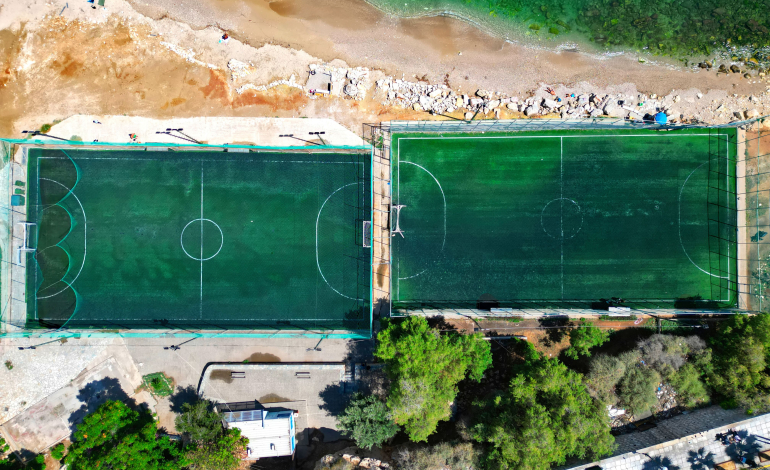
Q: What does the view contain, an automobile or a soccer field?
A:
soccer field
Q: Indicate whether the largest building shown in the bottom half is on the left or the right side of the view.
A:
left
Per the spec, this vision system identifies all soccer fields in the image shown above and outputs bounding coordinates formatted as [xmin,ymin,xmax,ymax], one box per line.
[393,131,737,309]
[28,148,371,329]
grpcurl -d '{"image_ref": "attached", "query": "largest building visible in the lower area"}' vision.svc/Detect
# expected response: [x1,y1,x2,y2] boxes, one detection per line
[221,394,297,459]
